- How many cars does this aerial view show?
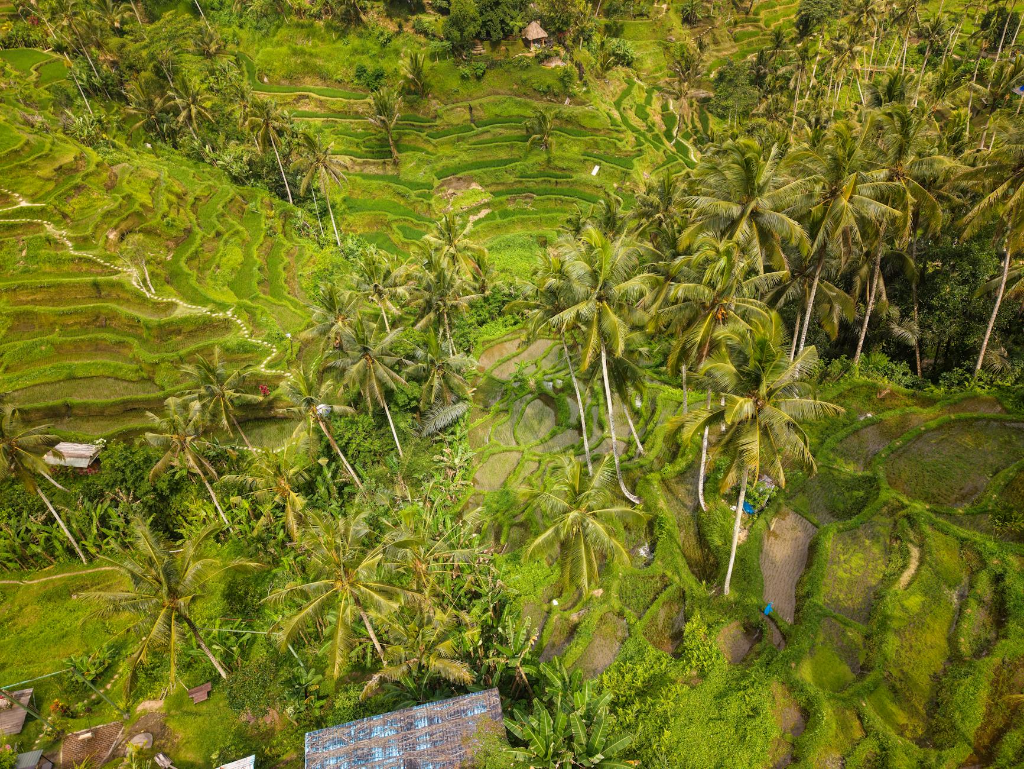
none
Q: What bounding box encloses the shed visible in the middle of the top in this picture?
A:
[520,18,551,56]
